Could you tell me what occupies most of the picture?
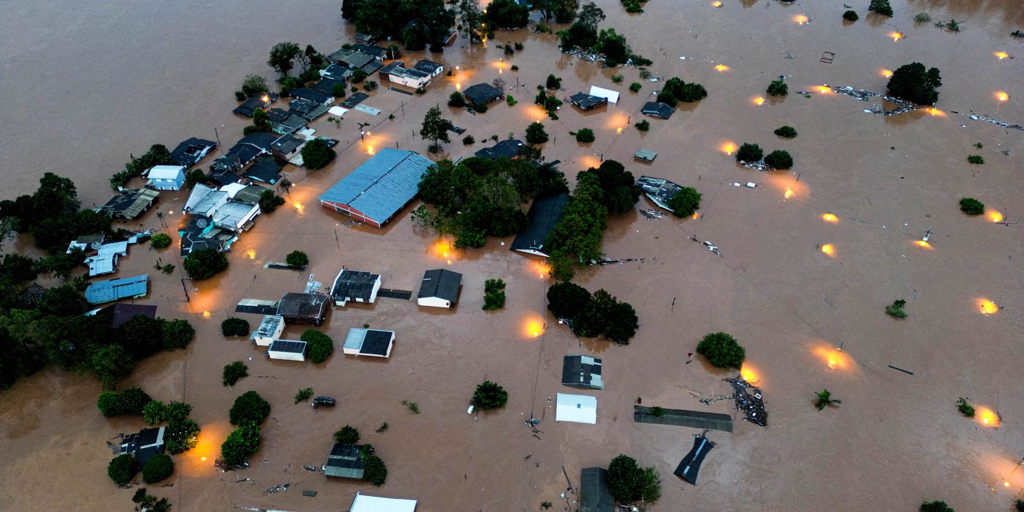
water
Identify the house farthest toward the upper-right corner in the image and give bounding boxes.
[641,102,675,120]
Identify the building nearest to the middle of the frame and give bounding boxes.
[510,193,566,259]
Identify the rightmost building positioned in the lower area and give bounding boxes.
[634,405,733,433]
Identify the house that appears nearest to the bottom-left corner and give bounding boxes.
[136,427,167,451]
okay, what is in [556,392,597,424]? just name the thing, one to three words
house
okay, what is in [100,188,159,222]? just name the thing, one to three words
building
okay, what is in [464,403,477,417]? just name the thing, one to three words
vehicle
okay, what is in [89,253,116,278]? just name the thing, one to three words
house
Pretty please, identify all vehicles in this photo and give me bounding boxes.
[464,403,477,417]
[313,398,336,408]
